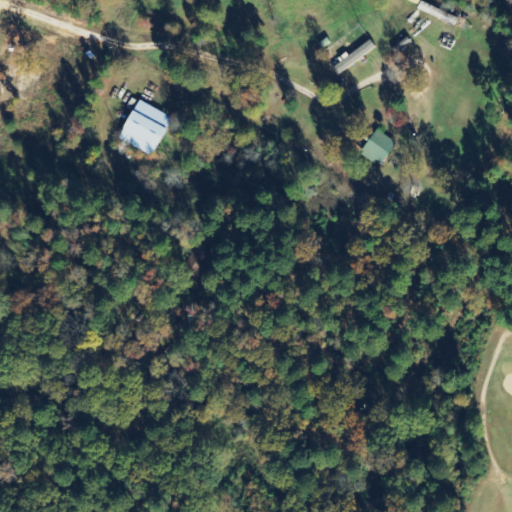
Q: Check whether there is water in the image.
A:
No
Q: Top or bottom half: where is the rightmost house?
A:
top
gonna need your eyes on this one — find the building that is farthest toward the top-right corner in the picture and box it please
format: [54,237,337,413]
[416,0,457,26]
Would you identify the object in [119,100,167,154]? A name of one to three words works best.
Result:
barn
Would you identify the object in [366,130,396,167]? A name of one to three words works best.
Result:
house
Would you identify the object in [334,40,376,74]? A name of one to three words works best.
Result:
house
